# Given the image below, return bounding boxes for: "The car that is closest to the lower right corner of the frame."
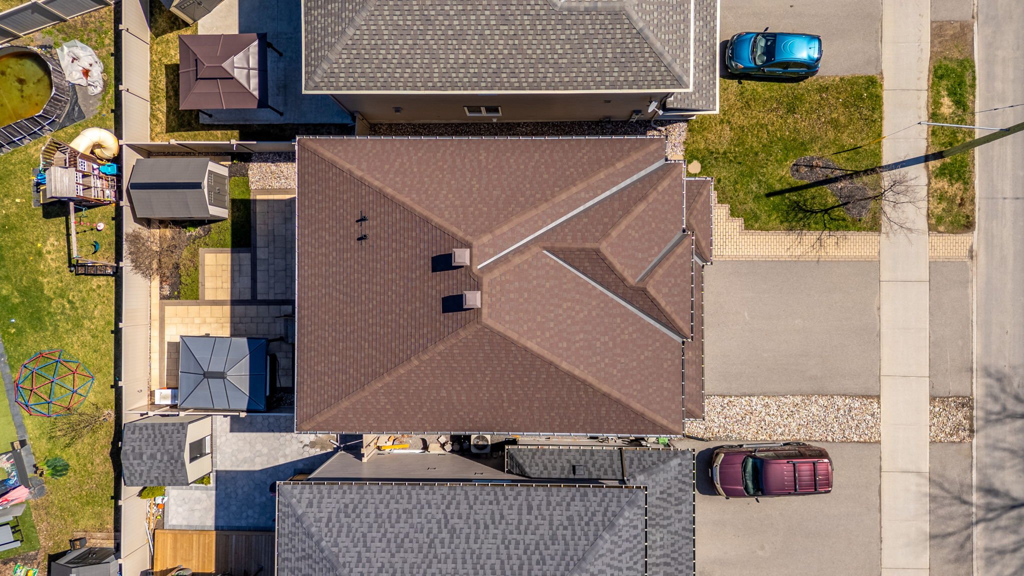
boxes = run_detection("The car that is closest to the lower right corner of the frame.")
[711,442,833,503]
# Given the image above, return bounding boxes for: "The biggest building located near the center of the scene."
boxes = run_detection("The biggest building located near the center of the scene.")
[296,135,713,444]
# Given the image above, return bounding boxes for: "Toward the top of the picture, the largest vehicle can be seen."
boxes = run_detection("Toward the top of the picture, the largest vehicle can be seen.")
[725,27,825,83]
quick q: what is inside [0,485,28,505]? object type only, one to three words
umbrella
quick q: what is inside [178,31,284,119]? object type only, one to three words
gazebo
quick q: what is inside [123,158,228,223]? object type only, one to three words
shed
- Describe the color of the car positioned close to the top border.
blue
